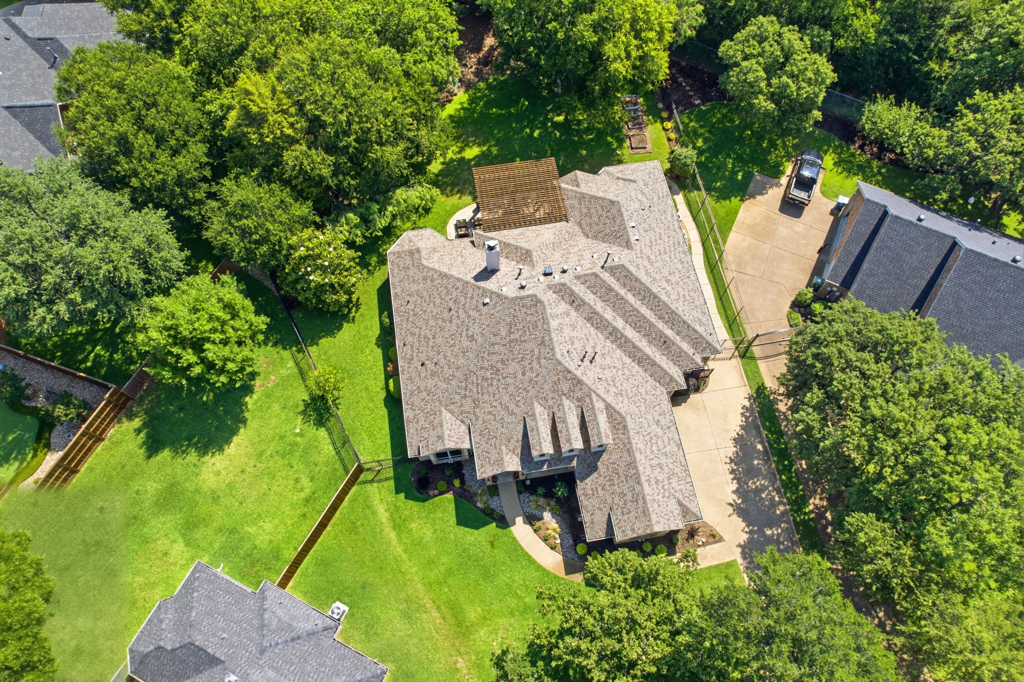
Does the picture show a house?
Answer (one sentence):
Yes, the picture does show a house.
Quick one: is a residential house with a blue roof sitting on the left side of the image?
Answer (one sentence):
No, on the left side of the image there is no residential house with a blue roof.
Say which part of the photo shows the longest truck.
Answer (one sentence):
Look in the top right portion of the view to spot the longest truck.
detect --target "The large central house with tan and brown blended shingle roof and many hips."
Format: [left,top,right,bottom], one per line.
[386,158,722,543]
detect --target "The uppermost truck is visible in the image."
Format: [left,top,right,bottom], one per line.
[784,149,825,213]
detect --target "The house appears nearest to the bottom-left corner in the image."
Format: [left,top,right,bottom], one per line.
[124,558,390,682]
